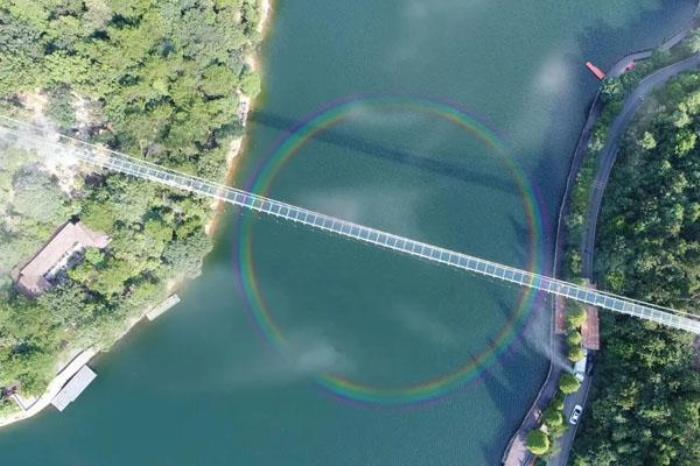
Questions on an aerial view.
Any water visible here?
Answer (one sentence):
Yes, water shows up in the scene.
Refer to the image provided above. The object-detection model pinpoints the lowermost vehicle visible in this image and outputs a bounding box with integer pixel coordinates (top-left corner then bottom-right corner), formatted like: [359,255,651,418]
[571,405,584,426]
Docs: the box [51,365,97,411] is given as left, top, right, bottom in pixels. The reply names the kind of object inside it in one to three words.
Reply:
pier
